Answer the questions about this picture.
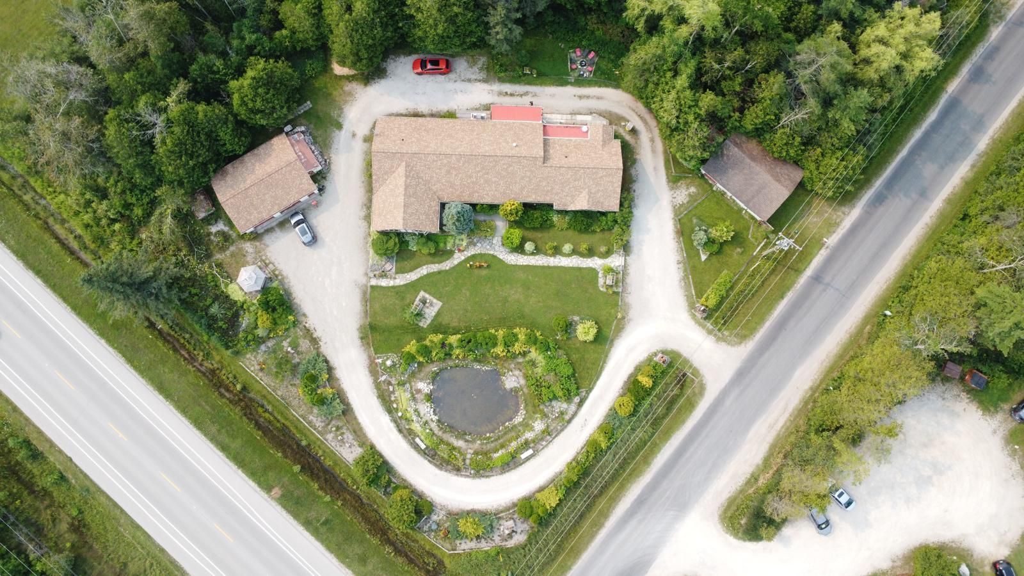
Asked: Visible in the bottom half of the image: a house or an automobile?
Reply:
automobile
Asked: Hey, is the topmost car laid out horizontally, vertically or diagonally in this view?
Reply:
horizontally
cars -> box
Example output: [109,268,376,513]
[412,56,451,76]
[804,503,835,541]
[990,554,1017,576]
[1002,395,1024,427]
[289,210,318,250]
[828,480,860,516]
